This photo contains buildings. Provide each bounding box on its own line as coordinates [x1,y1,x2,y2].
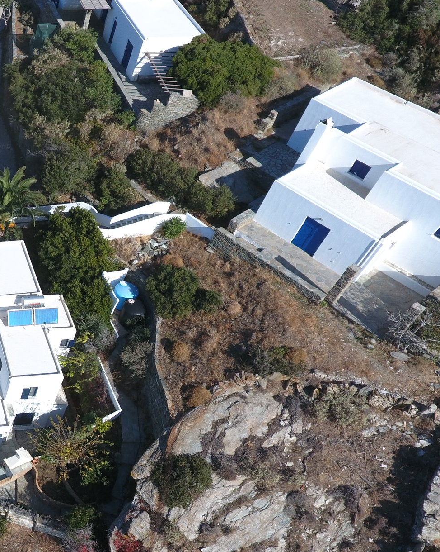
[256,77,440,285]
[0,241,78,445]
[53,0,205,81]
